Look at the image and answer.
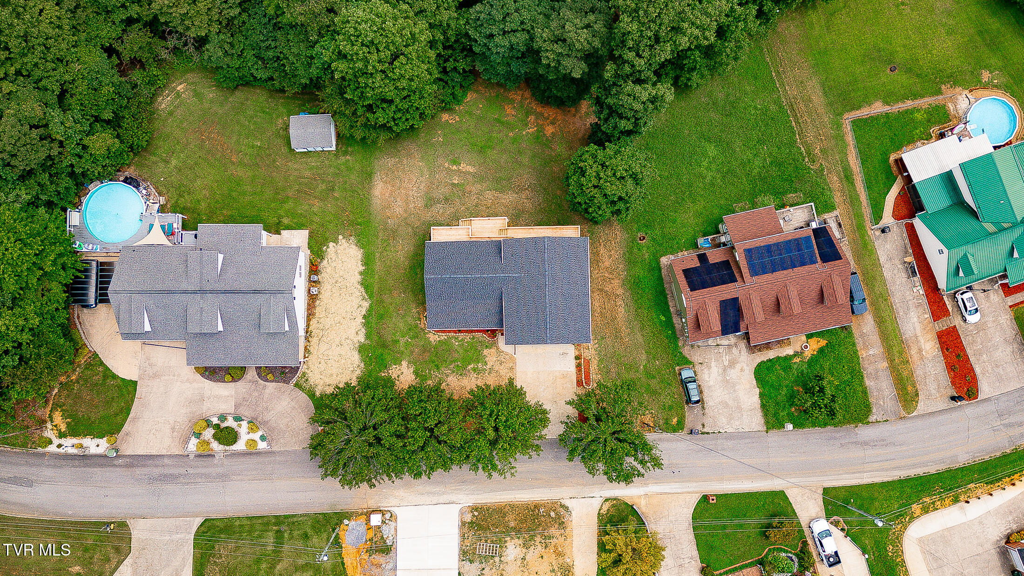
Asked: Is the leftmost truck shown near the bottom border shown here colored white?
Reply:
Yes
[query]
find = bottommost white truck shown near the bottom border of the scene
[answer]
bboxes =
[809,516,845,571]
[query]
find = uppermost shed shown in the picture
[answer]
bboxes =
[290,114,337,153]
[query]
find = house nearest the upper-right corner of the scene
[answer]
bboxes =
[904,146,1024,293]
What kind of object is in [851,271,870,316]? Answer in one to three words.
vehicle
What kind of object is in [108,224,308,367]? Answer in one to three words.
house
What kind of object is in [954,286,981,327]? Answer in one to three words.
car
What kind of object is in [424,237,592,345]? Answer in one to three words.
house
